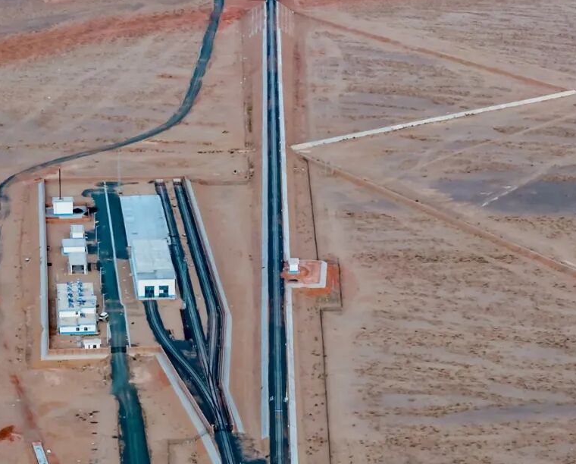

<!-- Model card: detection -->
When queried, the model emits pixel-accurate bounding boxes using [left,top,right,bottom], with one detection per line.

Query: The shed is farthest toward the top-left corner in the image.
[46,197,88,222]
